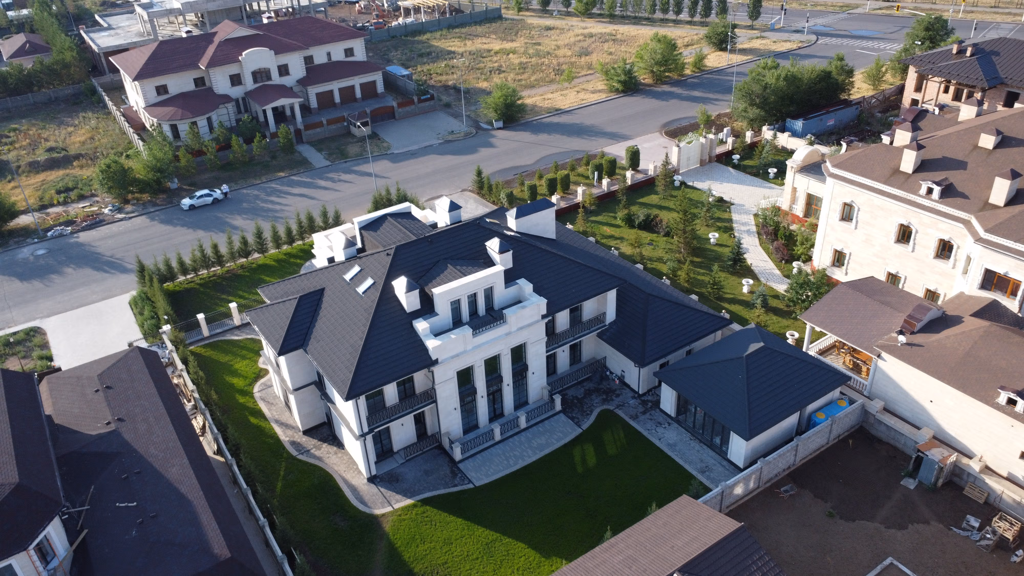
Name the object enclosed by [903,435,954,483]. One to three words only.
shed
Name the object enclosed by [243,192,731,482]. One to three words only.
house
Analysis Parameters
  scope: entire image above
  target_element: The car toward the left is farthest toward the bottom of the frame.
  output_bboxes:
[179,188,222,209]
